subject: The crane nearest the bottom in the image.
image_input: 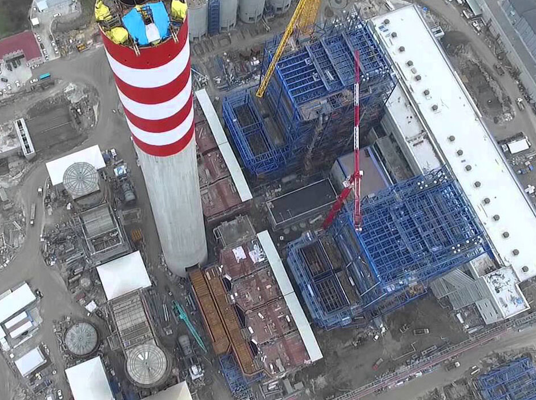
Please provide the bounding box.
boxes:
[321,50,363,235]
